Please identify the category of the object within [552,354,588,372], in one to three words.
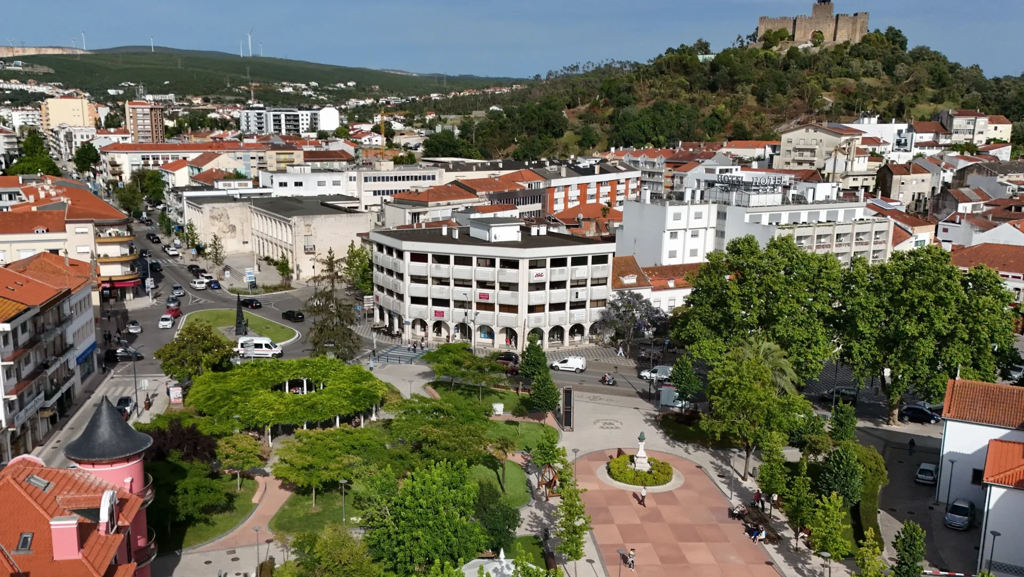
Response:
vehicle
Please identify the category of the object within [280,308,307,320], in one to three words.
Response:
vehicle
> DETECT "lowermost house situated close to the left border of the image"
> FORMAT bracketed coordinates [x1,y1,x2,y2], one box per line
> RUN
[0,395,166,577]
